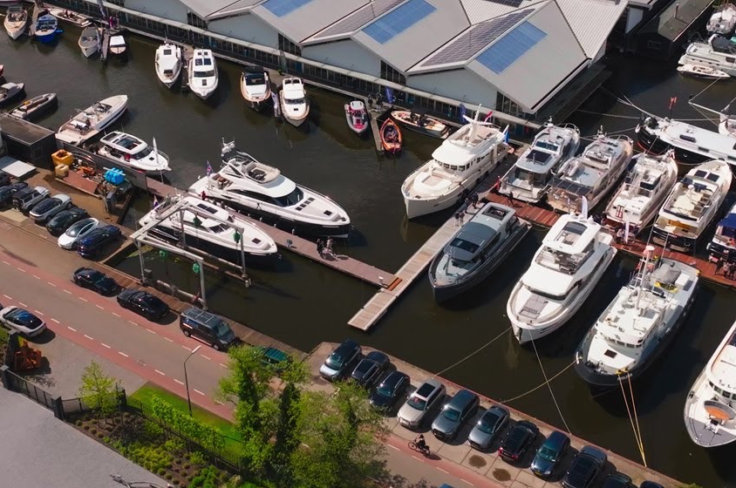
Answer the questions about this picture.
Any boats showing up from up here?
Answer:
Yes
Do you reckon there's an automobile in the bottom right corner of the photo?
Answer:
Yes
